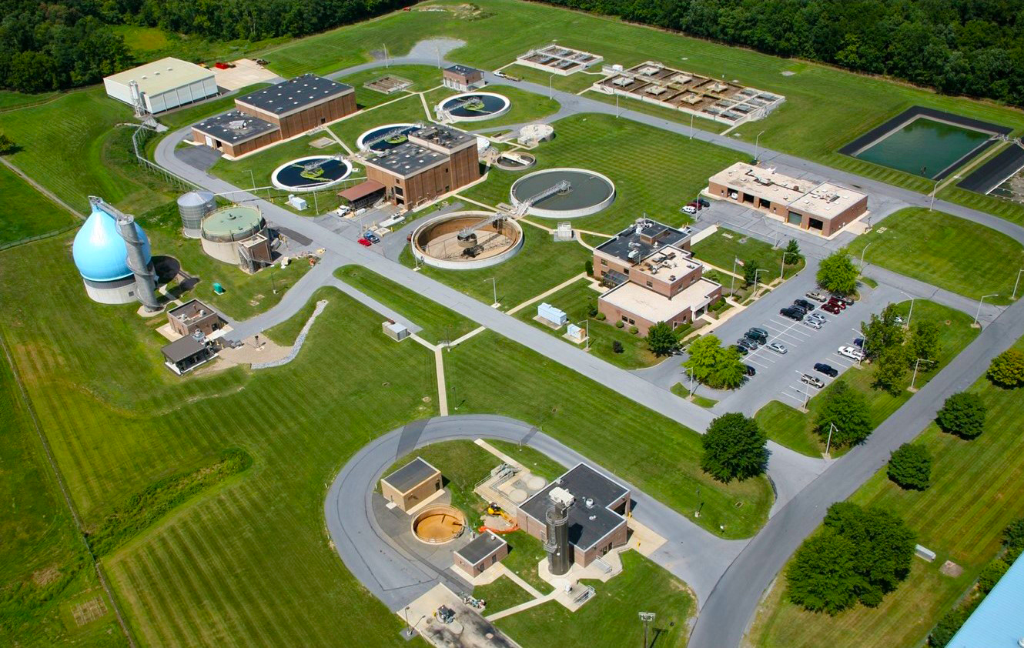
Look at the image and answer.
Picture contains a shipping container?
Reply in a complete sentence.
Yes, I can see a shipping container in this picture.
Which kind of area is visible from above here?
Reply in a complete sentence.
This looks like an industrial area.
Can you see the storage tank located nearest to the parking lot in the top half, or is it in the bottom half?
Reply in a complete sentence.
You can find the storage tank located nearest to the parking lot in the top half.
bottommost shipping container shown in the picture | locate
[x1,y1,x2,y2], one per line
[532,302,573,327]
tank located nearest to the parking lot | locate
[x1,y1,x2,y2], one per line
[512,169,613,218]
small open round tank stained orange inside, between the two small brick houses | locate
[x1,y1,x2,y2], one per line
[411,499,466,547]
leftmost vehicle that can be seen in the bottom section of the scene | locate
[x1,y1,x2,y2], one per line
[485,498,515,520]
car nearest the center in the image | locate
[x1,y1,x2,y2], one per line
[401,231,414,243]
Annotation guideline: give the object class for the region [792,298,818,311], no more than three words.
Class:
vehicle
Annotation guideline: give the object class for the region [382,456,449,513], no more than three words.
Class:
building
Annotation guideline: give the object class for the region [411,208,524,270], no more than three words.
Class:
storage tank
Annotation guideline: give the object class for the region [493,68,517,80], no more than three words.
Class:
vehicle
